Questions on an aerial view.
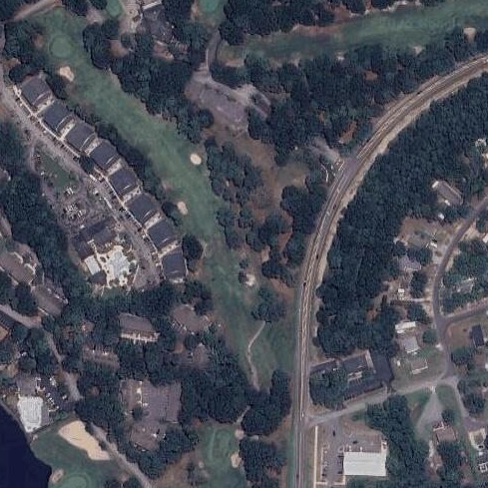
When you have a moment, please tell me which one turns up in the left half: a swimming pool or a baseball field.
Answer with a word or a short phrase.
swimming pool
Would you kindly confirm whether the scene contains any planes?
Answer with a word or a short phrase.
No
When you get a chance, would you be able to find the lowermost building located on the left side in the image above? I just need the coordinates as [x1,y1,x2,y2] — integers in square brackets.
[129,424,161,451]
